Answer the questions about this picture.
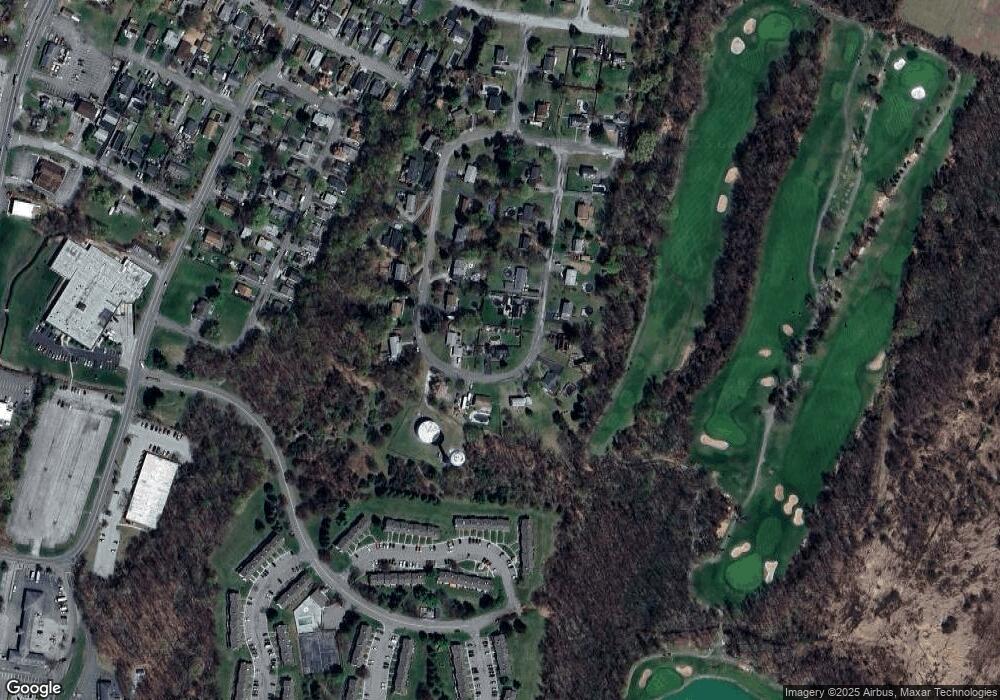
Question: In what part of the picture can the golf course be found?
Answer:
right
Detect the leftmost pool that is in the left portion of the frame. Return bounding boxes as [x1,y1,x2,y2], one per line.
[294,597,322,633]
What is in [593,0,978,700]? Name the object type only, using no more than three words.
golf course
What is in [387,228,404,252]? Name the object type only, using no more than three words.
house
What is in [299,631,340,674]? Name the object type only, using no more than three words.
tennis court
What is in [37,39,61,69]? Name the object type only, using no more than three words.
building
